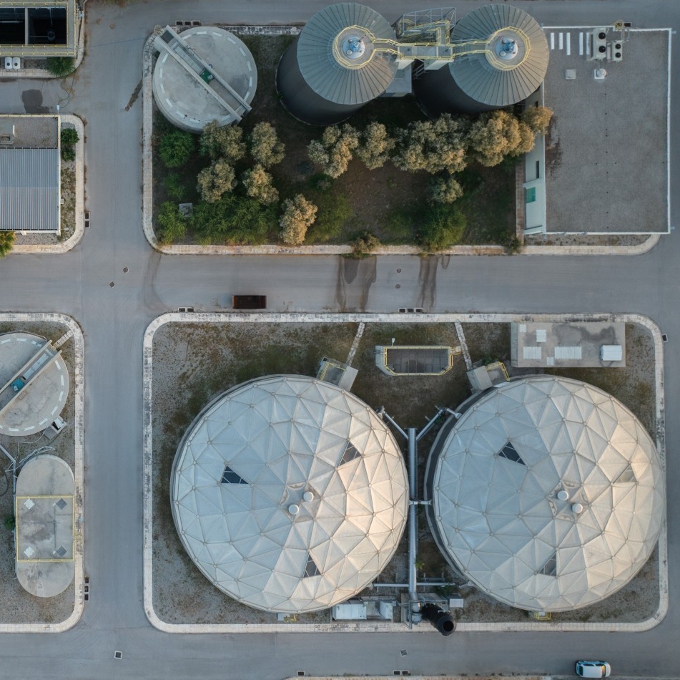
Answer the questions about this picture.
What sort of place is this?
industrial area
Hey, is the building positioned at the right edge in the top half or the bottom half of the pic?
top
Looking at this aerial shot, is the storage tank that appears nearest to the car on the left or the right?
right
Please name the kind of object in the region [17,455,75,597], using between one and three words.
storage tank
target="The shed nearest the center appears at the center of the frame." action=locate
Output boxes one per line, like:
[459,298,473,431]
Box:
[316,358,358,392]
